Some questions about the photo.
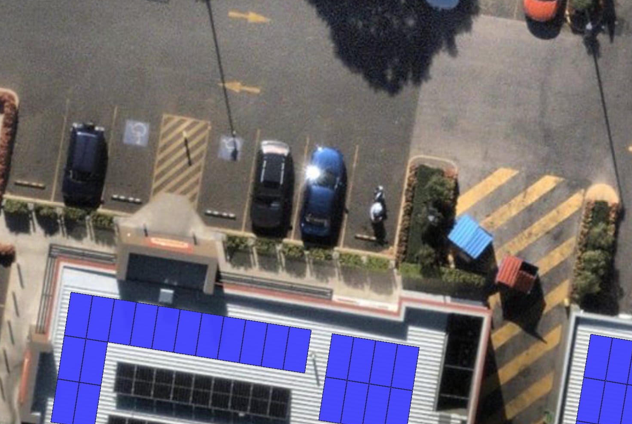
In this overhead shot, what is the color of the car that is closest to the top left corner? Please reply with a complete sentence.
The car that is closest to the top left corner is black.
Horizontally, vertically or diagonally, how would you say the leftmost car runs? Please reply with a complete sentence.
What the image shows is the leftmost car lying vertically.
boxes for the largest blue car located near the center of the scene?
[301,145,345,239]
